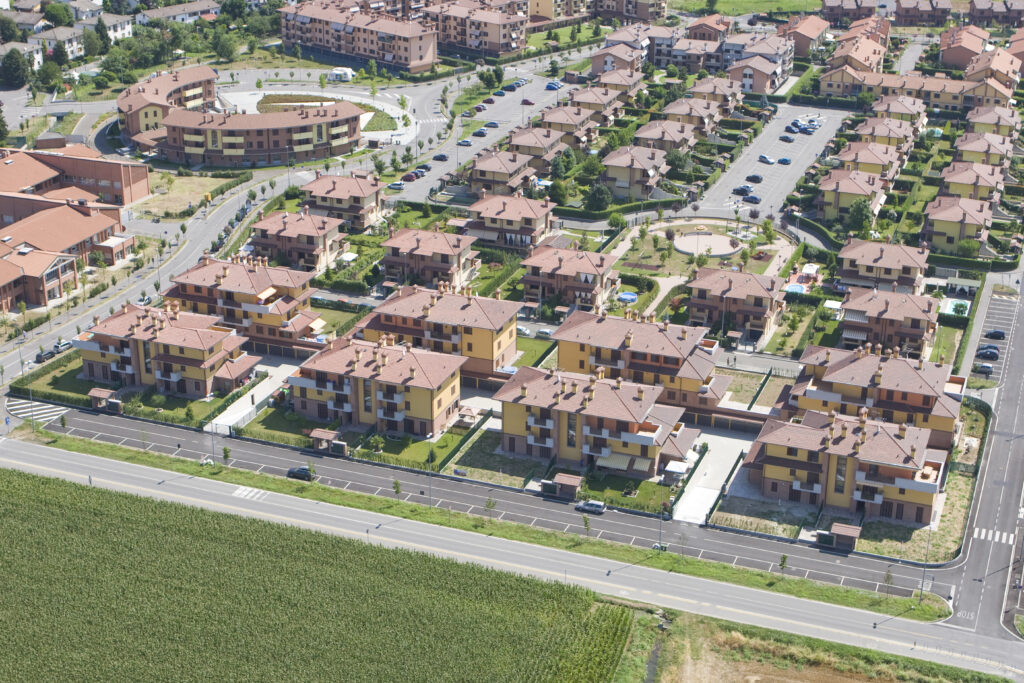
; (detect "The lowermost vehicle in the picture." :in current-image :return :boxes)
[574,501,607,516]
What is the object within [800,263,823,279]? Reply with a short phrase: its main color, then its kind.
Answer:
white gazebo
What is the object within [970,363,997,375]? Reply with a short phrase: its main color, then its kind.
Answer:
gray vehicle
